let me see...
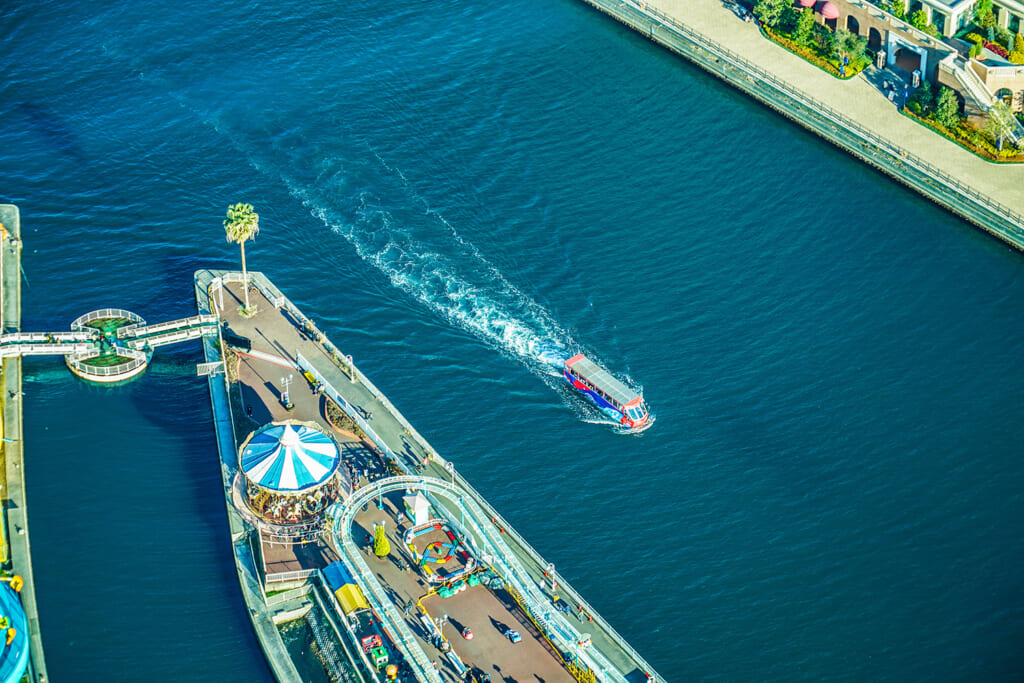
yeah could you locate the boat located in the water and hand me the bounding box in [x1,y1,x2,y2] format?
[563,354,650,428]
